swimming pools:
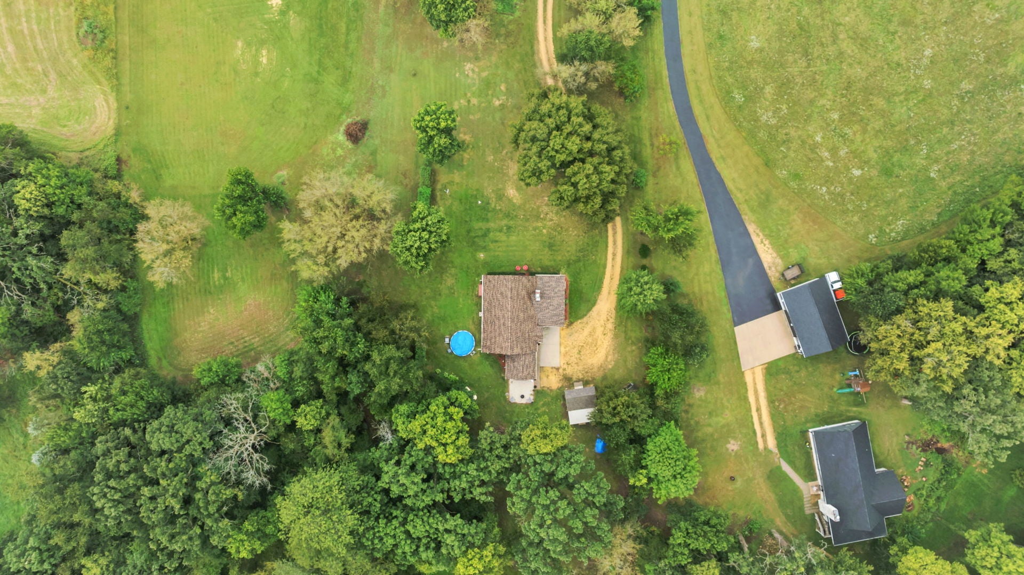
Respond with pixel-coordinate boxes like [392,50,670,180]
[448,330,475,356]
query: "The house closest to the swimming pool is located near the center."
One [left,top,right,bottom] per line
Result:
[481,276,566,380]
